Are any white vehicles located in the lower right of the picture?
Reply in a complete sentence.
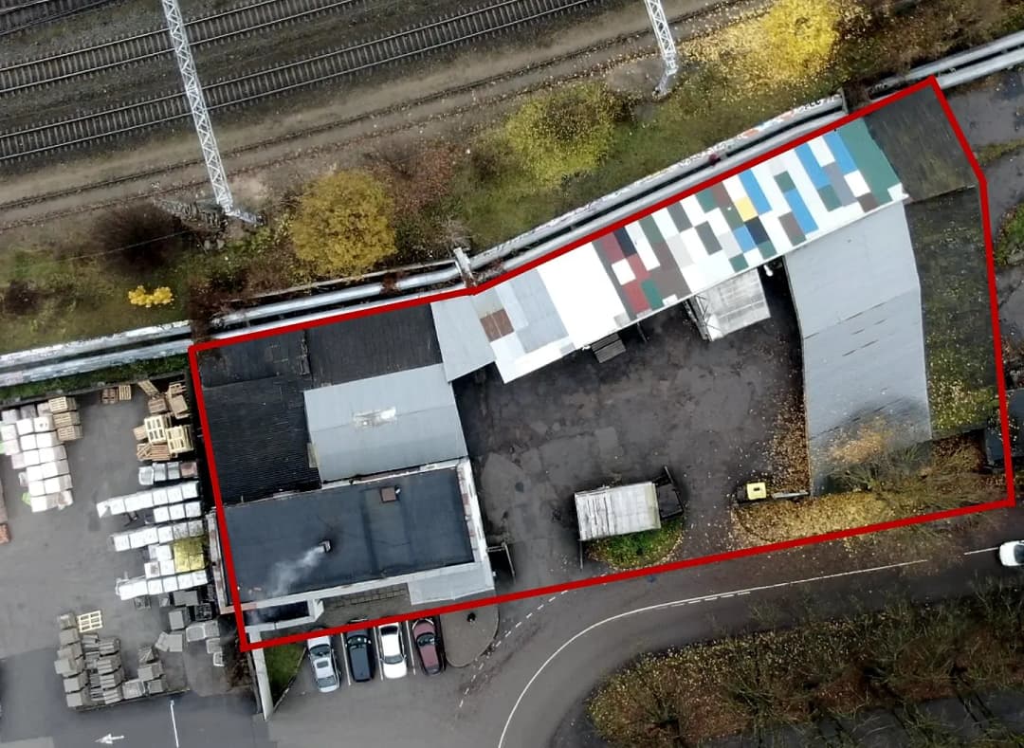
Yes, a white vehicle appears in the lower right of the picture.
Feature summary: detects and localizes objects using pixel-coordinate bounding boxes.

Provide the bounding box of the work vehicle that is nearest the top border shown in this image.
[738,482,768,502]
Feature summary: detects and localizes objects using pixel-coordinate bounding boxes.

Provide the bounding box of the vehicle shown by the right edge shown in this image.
[996,538,1024,569]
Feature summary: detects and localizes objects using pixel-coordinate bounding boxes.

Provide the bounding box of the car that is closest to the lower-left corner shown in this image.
[306,627,341,693]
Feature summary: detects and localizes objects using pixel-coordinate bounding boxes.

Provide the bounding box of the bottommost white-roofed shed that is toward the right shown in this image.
[574,482,684,541]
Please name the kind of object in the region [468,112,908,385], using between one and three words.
shed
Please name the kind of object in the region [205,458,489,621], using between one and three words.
building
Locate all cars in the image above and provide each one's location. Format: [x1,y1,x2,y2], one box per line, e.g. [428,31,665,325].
[996,538,1024,569]
[306,627,341,693]
[410,616,445,680]
[376,615,408,682]
[341,620,375,686]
